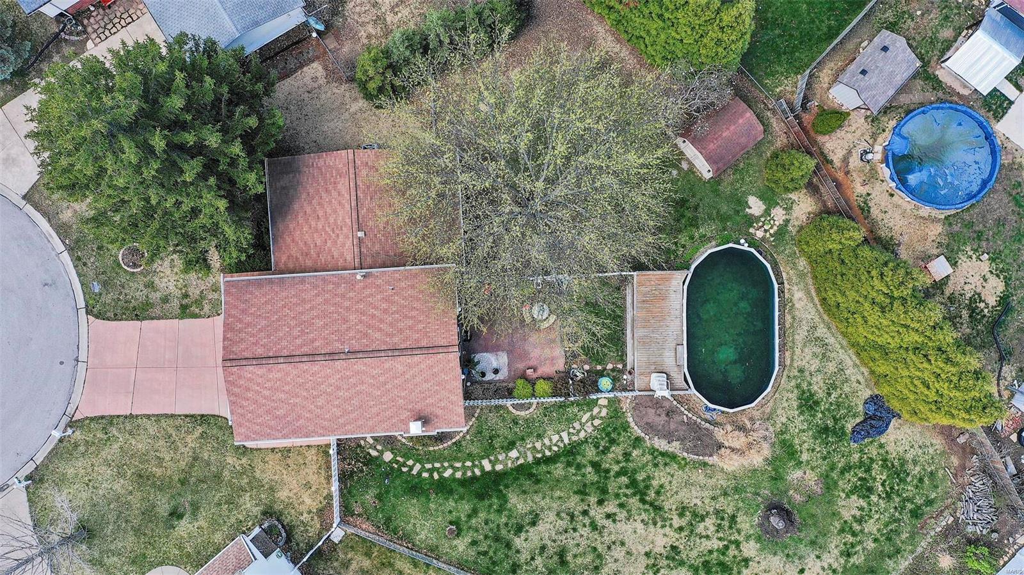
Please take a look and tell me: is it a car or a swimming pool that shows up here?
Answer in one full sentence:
It is a swimming pool that can be seen here.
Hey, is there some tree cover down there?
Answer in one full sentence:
Yes, tree cover shows up in the scene.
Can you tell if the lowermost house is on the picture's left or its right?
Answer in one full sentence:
The lowermost house is on the left side of the image.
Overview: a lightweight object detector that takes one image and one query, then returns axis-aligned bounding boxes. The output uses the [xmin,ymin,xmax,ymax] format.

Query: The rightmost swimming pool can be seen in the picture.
[877,99,1001,217]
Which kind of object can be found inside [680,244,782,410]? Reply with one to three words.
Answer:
swimming pool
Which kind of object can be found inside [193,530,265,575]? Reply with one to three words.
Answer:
house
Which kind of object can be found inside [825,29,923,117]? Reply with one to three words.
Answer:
shed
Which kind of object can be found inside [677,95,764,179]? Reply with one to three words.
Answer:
shed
